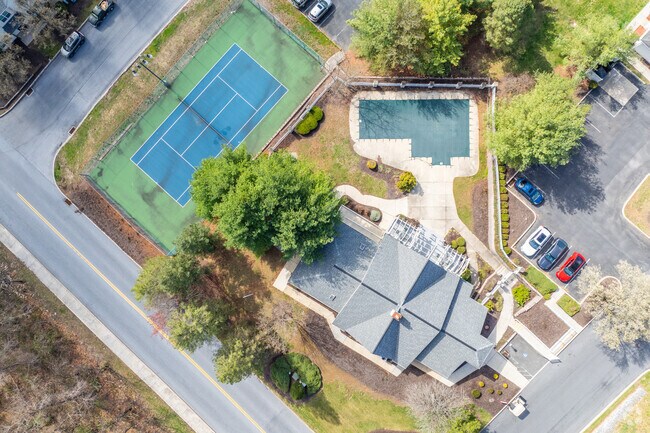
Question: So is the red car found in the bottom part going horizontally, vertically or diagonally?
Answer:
diagonally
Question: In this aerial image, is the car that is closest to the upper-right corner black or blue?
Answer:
blue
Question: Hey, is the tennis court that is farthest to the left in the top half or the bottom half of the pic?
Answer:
top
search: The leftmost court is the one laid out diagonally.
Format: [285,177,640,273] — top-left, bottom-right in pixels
[86,1,324,255]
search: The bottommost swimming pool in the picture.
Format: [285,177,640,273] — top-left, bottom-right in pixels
[355,95,475,170]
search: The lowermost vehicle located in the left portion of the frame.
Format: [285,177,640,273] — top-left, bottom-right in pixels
[54,26,84,58]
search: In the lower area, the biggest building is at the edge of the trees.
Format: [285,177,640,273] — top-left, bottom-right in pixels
[289,208,493,385]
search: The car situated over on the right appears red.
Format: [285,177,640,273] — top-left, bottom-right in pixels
[557,251,590,283]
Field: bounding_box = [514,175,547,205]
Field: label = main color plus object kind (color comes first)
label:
blue car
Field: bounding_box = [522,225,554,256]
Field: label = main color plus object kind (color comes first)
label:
white car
